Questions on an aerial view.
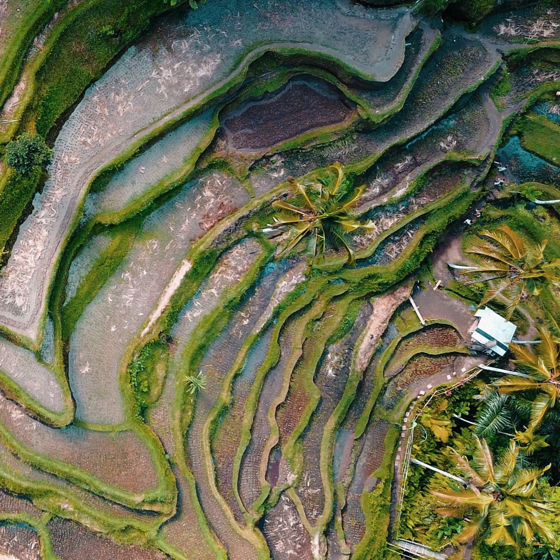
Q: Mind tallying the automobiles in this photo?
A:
none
